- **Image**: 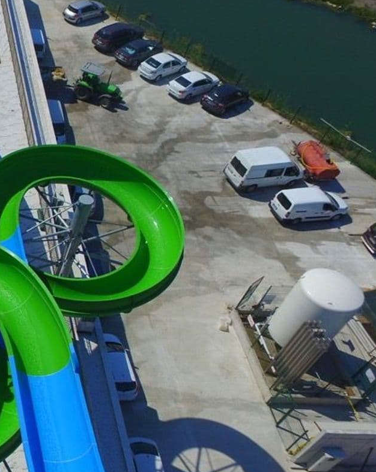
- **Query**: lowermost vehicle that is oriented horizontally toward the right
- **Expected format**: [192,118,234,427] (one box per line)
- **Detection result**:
[271,181,349,217]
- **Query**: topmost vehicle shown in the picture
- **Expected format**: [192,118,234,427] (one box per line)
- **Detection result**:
[62,0,106,20]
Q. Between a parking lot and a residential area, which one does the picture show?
parking lot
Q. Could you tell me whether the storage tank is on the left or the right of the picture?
right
